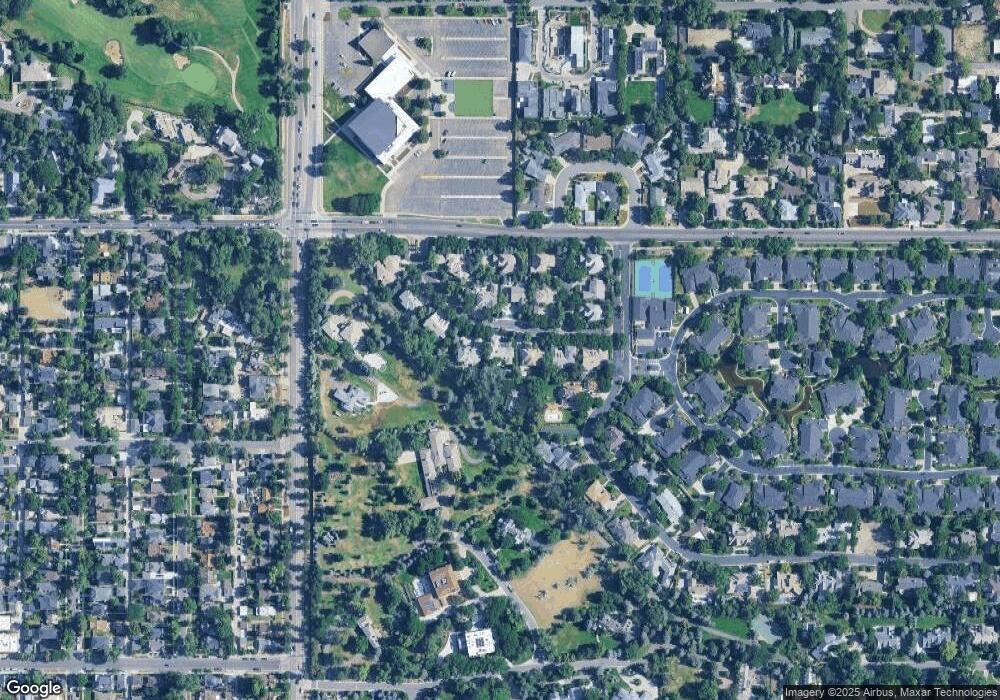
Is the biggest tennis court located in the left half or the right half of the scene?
right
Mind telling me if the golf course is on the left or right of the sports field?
to the left of it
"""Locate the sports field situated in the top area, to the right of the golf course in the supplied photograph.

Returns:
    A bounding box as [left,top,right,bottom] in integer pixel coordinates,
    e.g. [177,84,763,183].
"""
[454,80,493,117]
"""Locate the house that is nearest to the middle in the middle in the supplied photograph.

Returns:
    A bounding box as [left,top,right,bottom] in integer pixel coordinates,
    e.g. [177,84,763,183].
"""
[491,335,514,363]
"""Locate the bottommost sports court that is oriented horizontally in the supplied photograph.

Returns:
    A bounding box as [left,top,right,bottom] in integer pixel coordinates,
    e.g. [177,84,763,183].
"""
[540,424,579,436]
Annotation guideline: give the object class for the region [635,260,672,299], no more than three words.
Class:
tennis court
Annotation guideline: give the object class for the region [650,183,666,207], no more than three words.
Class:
house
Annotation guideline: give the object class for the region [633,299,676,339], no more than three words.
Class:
building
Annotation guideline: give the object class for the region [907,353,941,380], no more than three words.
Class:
house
